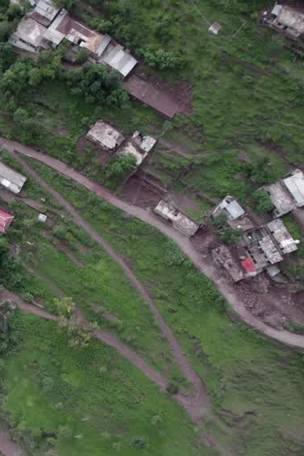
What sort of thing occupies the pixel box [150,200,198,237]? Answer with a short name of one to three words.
house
